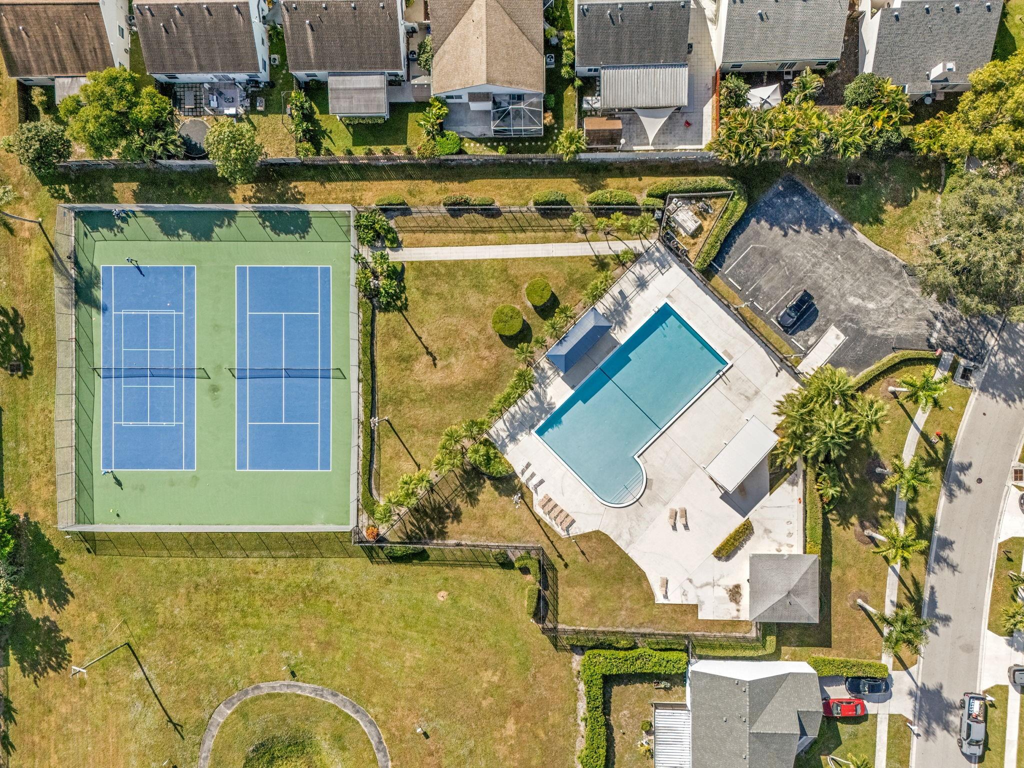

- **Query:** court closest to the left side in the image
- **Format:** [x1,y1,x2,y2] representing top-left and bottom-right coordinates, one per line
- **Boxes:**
[75,211,215,525]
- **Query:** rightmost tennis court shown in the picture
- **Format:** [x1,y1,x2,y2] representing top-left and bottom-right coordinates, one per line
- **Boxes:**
[215,211,357,525]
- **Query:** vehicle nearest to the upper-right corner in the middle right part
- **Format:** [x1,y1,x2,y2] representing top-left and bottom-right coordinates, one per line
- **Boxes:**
[779,289,815,330]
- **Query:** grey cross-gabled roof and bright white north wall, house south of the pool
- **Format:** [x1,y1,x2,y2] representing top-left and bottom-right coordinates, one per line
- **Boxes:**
[688,662,823,768]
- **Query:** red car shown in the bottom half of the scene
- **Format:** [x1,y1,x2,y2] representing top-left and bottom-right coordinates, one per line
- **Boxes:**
[821,696,862,717]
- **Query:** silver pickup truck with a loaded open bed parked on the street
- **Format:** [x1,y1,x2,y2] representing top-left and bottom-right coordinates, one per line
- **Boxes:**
[961,693,989,753]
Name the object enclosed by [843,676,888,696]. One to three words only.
car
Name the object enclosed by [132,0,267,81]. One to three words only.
house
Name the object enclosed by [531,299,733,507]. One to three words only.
swimming pool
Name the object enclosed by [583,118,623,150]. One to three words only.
shed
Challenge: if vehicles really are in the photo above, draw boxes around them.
[1005,664,1024,685]
[821,696,862,717]
[843,676,888,696]
[961,693,989,753]
[1017,494,1024,510]
[779,289,815,330]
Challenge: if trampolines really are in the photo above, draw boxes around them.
[178,121,211,155]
